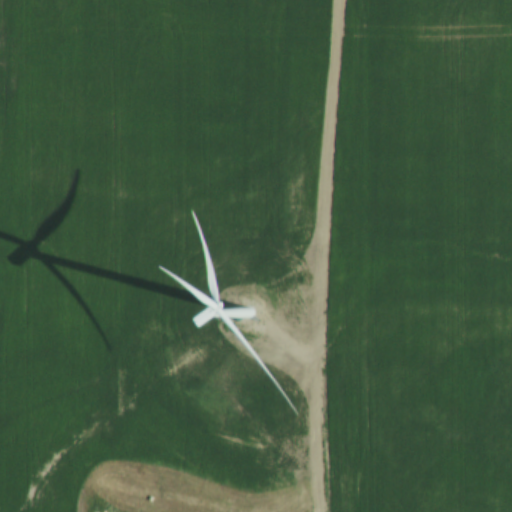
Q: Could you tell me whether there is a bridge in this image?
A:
No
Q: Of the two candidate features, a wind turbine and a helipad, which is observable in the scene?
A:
wind turbine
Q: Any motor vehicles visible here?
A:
No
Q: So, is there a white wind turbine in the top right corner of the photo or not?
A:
No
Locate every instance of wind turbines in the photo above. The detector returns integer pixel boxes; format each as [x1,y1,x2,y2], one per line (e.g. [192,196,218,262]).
[160,210,298,414]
